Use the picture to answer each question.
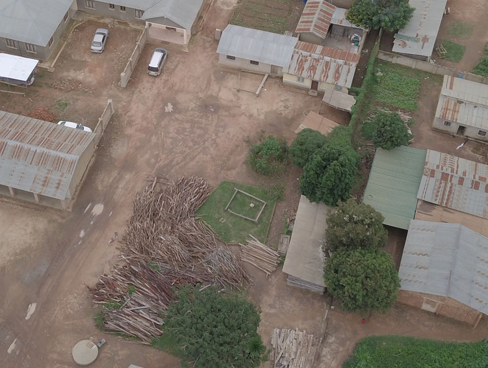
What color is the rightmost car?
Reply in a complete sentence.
The color of the rightmost car is white.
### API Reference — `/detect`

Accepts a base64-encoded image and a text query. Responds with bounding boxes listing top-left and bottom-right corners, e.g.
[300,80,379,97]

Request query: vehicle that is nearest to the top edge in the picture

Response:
[90,28,109,54]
